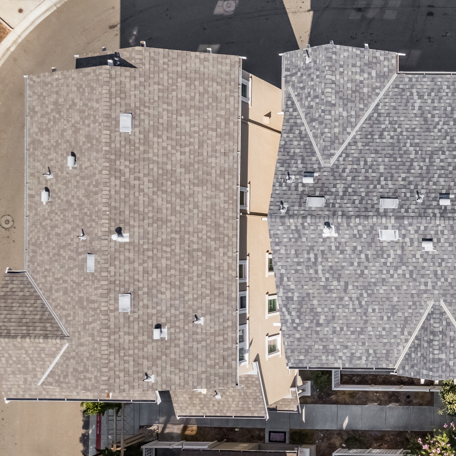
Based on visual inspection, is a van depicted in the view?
No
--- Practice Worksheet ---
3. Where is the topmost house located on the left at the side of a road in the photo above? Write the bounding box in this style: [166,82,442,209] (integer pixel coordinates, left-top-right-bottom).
[0,39,319,421]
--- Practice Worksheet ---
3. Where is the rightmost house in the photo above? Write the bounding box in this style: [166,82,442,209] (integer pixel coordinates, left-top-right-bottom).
[266,37,456,387]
